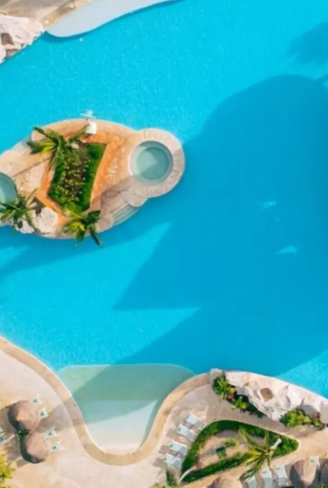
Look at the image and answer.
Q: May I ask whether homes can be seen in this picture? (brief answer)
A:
No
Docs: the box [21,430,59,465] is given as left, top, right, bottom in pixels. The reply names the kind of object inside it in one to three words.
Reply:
umbrella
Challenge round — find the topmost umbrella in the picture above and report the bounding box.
[11,396,48,430]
